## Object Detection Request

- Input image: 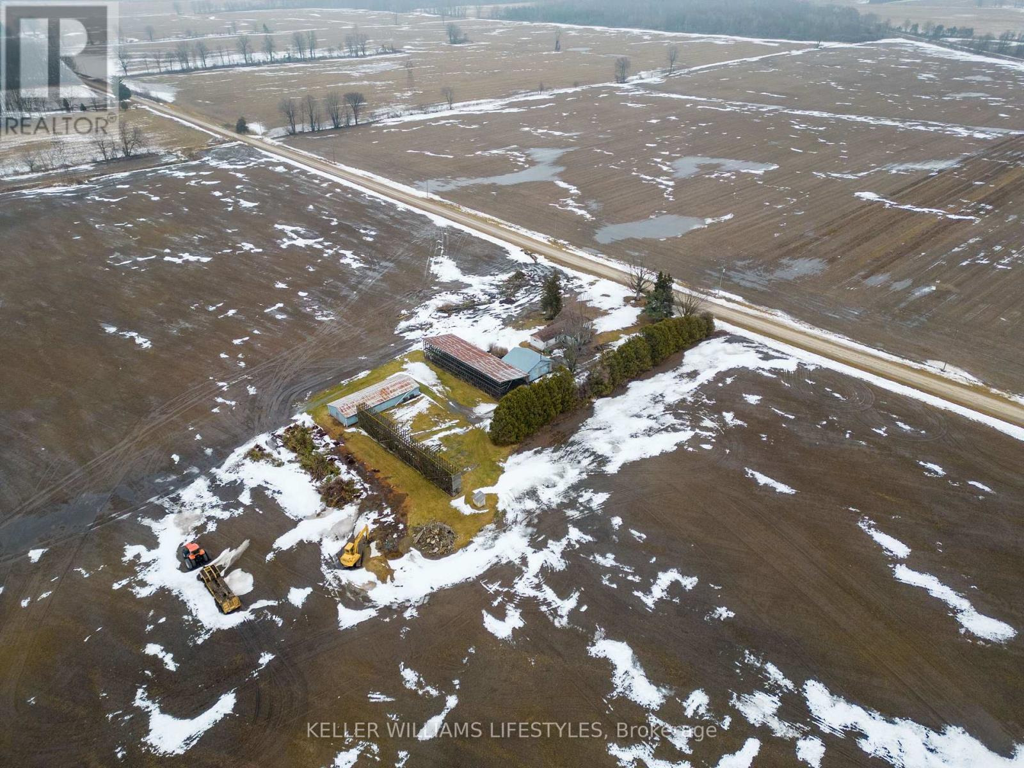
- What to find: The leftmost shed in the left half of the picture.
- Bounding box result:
[324,369,420,427]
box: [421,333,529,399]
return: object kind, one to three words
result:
shed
